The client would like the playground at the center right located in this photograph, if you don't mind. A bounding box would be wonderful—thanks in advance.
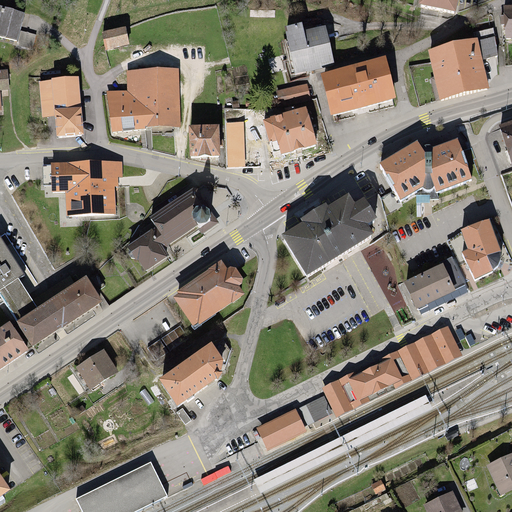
[362,240,407,311]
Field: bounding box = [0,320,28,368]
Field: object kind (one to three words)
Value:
house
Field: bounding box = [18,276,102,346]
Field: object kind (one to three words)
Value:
building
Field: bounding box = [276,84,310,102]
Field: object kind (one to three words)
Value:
shed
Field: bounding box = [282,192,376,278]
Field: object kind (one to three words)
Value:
building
